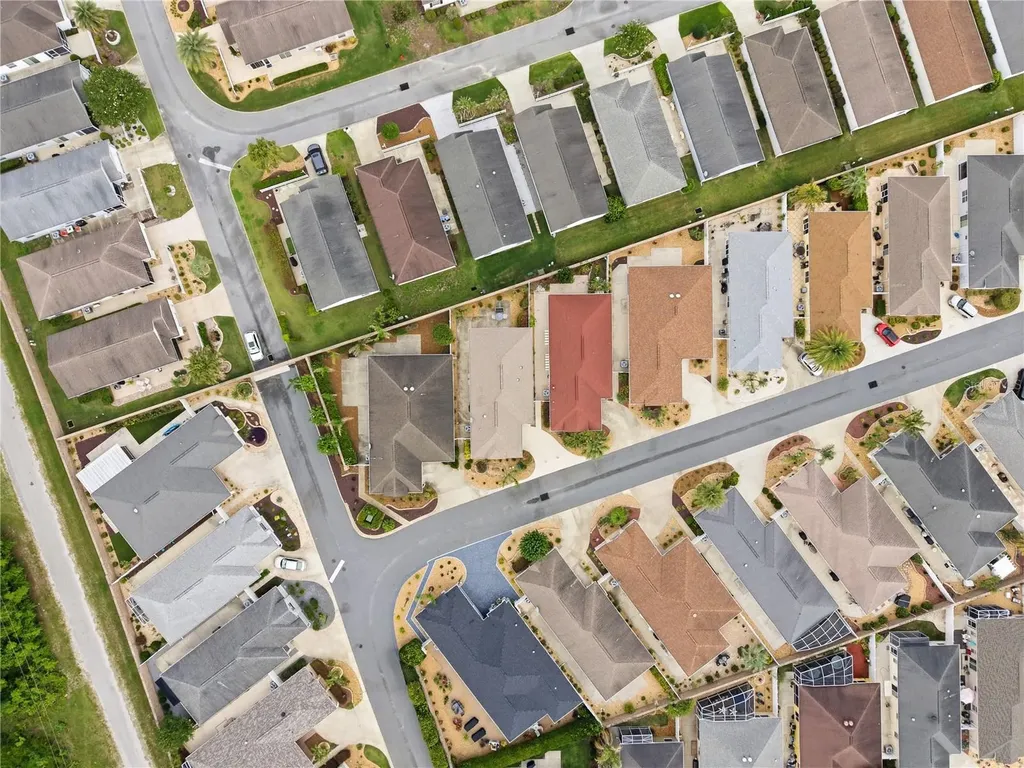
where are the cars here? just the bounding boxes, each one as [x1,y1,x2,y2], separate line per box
[1014,367,1024,399]
[947,294,979,319]
[797,349,824,378]
[274,556,306,571]
[243,330,266,362]
[308,143,330,176]
[873,321,902,348]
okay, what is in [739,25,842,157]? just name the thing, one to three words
house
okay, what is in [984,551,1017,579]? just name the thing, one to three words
tent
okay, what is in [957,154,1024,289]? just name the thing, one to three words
house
